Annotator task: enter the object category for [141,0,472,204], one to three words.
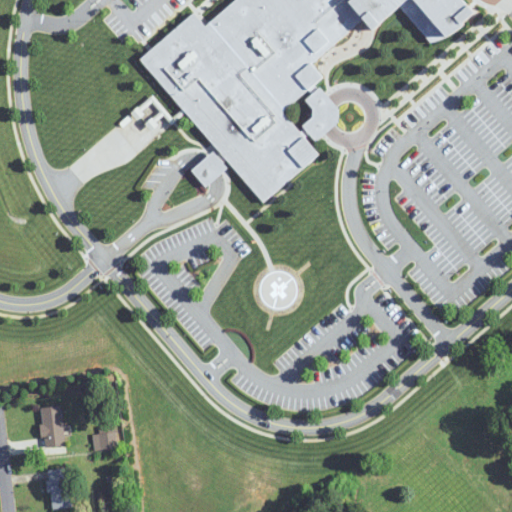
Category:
building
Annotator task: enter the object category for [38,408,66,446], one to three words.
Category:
house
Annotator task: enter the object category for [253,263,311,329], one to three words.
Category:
helipad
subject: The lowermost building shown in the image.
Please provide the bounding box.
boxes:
[47,470,67,510]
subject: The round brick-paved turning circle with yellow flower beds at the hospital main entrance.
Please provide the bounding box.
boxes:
[327,92,376,146]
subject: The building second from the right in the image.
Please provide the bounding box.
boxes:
[92,431,120,452]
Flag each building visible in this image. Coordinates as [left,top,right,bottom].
[92,431,120,452]
[47,470,67,510]
[38,408,66,446]
[141,0,472,204]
